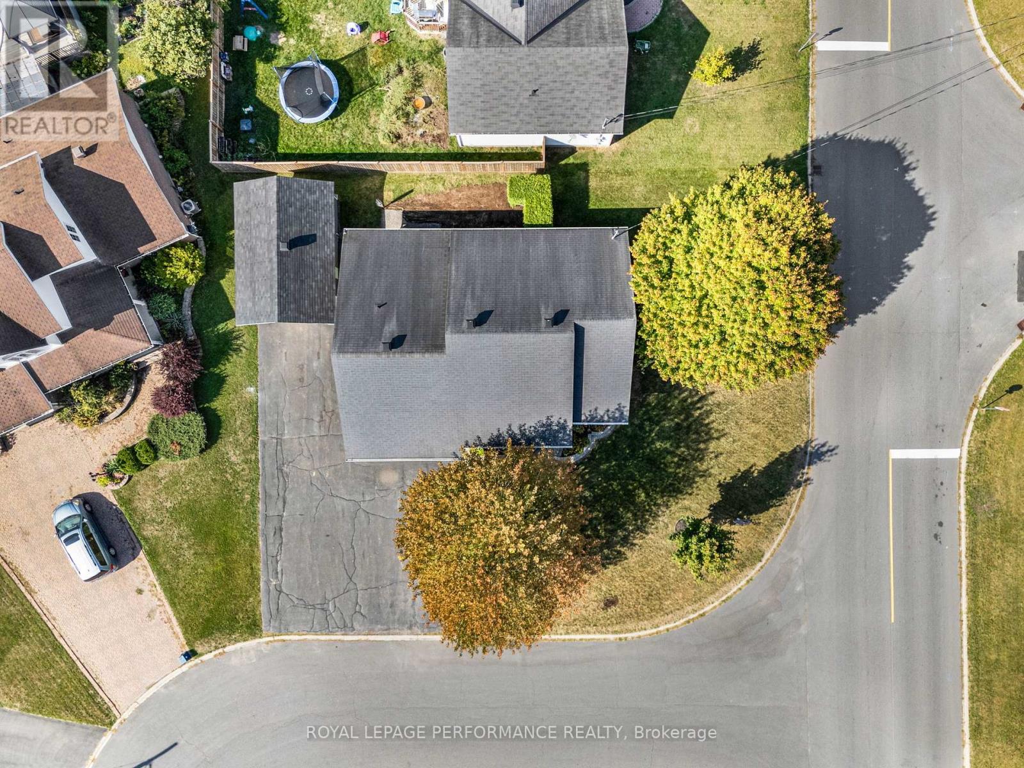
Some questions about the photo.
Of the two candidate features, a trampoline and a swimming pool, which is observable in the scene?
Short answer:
trampoline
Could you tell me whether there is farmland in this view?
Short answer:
No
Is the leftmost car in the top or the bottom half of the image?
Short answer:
bottom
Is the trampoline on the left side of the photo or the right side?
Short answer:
left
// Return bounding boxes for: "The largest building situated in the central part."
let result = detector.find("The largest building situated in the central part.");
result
[333,225,637,462]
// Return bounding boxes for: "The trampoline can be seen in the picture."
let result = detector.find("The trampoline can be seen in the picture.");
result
[274,49,342,126]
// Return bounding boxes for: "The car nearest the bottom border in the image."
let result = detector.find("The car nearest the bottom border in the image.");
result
[55,498,115,583]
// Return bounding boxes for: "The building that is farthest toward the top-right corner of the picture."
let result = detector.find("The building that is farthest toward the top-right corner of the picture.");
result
[444,0,628,147]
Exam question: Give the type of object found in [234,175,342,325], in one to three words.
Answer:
building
